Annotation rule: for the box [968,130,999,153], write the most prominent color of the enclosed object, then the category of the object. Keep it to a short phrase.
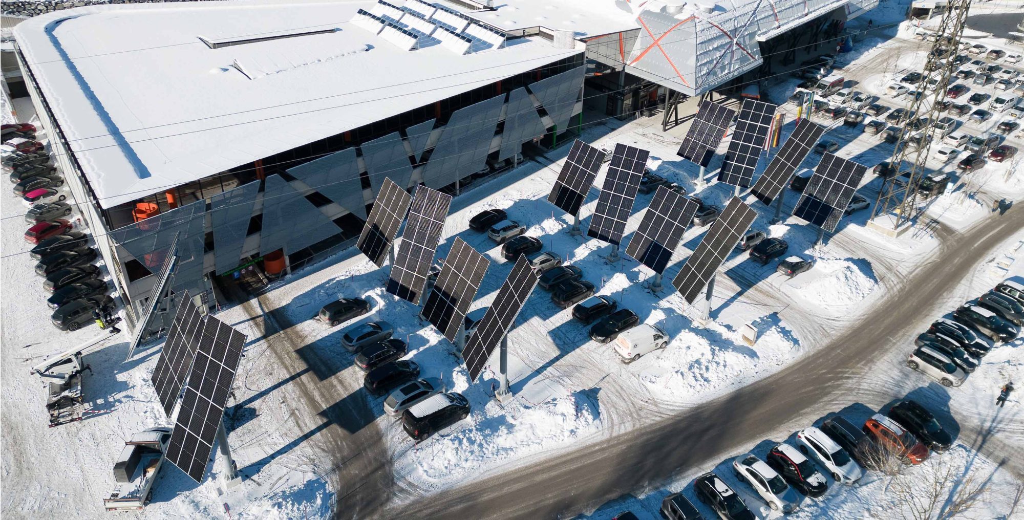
gray vehicle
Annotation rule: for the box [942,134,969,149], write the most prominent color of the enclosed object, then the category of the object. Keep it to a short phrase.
white car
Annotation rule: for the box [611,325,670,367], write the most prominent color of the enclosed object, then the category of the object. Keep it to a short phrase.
white van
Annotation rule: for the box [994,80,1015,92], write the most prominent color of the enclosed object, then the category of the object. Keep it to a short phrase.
gray vehicle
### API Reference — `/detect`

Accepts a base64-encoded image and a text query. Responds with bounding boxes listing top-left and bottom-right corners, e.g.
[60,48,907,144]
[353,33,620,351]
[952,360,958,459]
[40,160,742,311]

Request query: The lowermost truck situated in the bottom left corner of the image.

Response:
[98,432,166,510]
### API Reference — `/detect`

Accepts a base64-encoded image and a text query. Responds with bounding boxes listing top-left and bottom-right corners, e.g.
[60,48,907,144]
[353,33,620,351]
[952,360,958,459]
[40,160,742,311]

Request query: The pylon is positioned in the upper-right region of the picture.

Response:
[861,0,978,235]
